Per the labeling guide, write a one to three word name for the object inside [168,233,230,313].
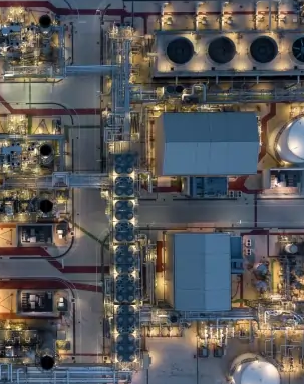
building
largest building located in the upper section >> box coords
[158,113,260,176]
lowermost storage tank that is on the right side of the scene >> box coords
[226,351,281,384]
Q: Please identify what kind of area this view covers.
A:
industrial area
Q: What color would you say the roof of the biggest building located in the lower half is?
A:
blue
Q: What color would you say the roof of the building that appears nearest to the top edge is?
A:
blue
